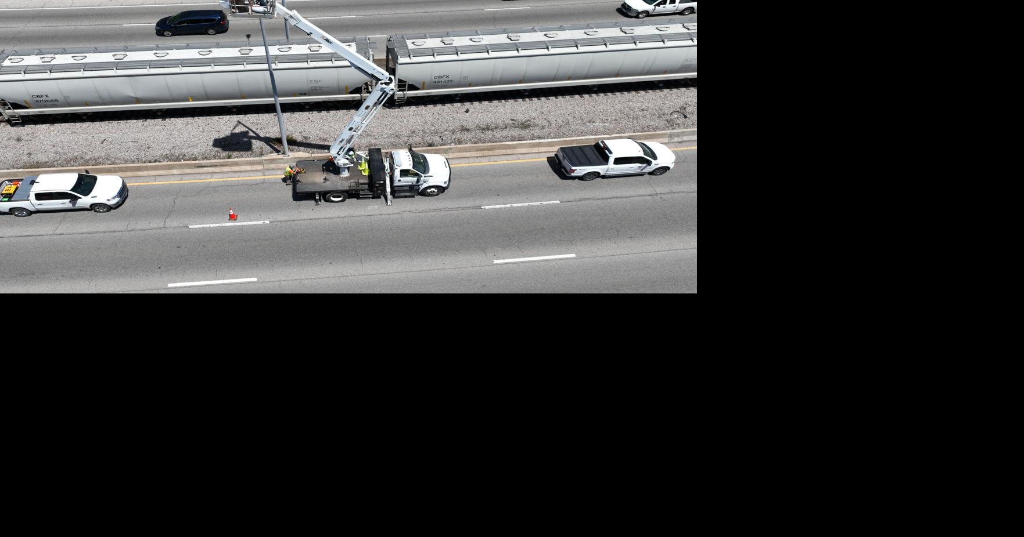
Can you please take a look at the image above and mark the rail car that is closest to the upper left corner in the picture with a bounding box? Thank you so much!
[0,36,377,123]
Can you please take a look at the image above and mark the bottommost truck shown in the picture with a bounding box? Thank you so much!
[0,169,128,215]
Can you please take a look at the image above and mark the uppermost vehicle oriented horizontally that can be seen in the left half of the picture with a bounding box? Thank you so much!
[154,7,229,35]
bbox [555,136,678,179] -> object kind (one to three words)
truck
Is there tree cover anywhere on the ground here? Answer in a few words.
No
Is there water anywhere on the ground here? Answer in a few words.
No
